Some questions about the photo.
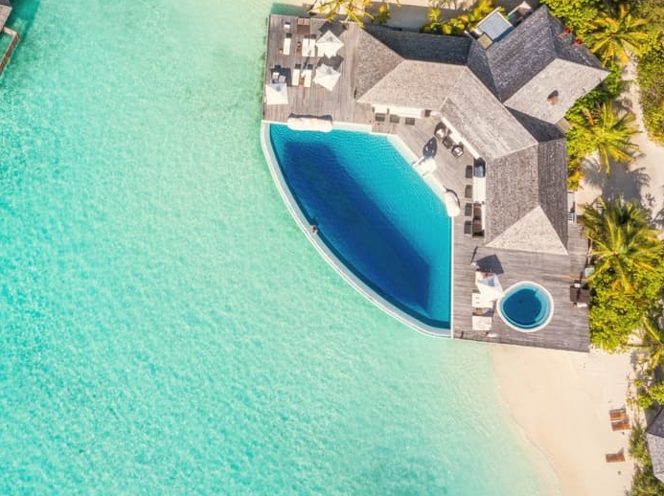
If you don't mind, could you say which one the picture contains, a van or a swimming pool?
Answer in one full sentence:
I can see a swimming pool in this picture.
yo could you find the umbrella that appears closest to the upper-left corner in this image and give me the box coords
[264,83,289,107]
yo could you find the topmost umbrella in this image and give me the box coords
[311,28,344,61]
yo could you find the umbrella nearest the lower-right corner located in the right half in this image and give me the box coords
[471,268,506,302]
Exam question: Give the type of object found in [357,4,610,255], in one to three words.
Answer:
building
